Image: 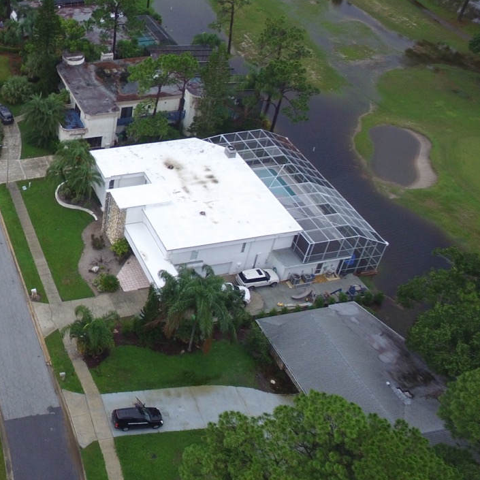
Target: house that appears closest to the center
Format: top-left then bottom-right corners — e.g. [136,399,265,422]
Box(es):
[92,138,341,294]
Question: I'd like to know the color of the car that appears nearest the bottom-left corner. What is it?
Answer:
black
